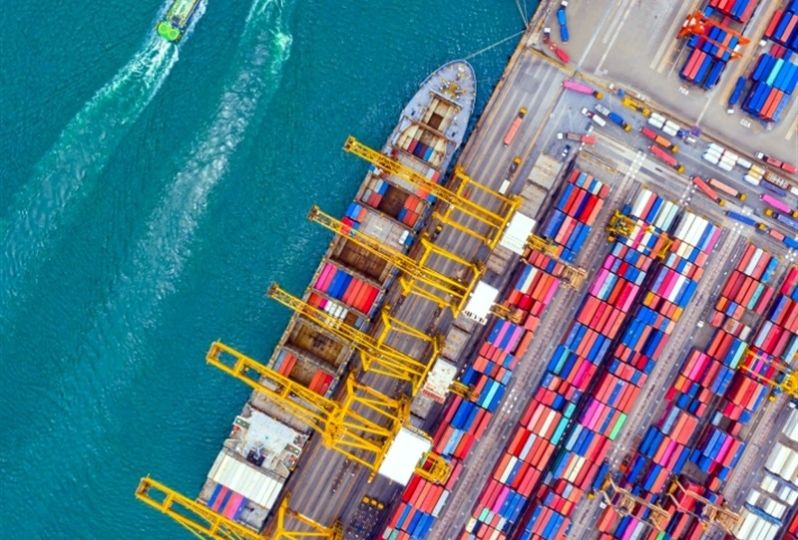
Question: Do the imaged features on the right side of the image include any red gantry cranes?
Yes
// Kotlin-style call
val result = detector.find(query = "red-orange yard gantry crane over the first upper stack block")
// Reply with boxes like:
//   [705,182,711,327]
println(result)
[666,8,756,69]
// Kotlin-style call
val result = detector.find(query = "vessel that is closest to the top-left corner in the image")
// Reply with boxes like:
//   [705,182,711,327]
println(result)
[158,0,204,42]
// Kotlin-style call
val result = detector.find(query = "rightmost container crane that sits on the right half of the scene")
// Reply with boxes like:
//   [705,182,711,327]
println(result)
[728,346,798,397]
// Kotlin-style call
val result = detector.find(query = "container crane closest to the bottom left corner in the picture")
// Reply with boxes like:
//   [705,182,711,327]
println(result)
[142,482,345,540]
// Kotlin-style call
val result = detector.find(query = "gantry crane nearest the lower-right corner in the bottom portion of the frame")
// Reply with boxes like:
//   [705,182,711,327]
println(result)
[664,475,745,536]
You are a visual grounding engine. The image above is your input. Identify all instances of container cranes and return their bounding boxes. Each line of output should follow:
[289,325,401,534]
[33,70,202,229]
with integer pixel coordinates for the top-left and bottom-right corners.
[600,474,677,534]
[664,475,745,536]
[310,205,528,328]
[209,345,453,486]
[142,482,345,540]
[271,285,486,404]
[515,241,590,292]
[666,8,756,69]
[598,204,679,258]
[728,346,798,397]
[344,131,566,258]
